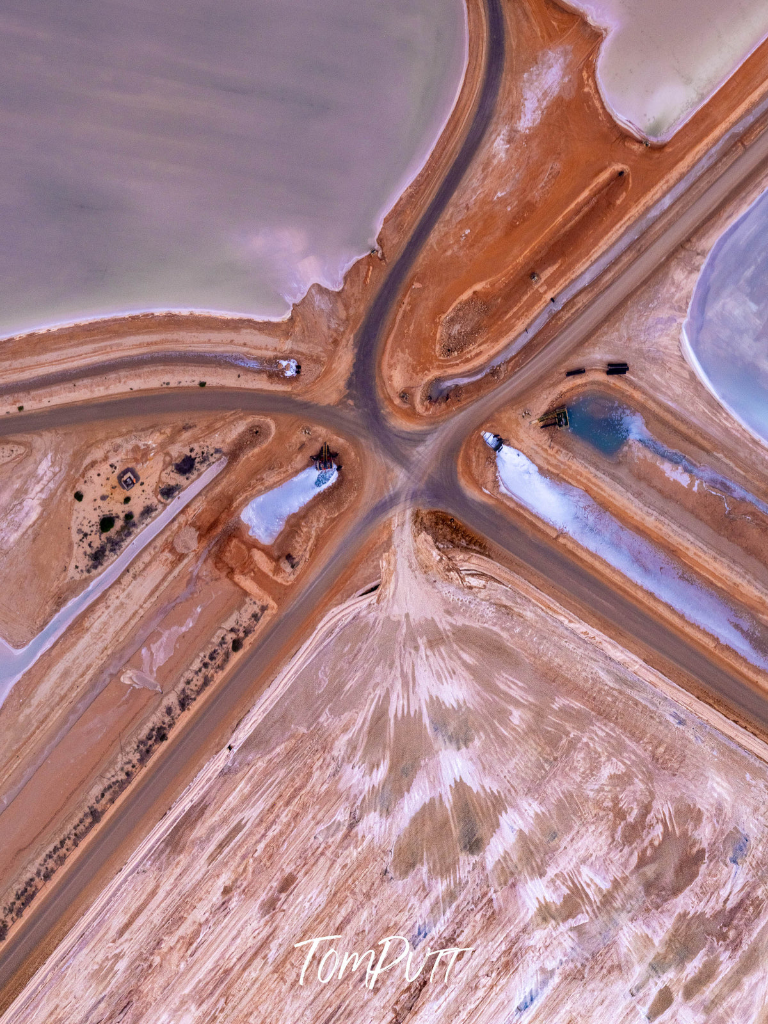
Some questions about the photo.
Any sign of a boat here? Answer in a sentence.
No, I can't see a single boat in this photo.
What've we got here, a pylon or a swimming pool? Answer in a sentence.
There is a swimming pool in the scene.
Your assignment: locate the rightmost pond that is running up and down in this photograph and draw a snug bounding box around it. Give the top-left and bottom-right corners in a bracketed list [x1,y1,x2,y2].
[682,191,768,442]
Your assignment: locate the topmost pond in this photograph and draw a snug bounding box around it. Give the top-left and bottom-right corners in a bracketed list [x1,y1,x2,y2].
[557,0,768,144]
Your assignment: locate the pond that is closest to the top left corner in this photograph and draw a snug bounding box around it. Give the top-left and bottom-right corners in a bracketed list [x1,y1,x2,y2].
[0,0,468,342]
